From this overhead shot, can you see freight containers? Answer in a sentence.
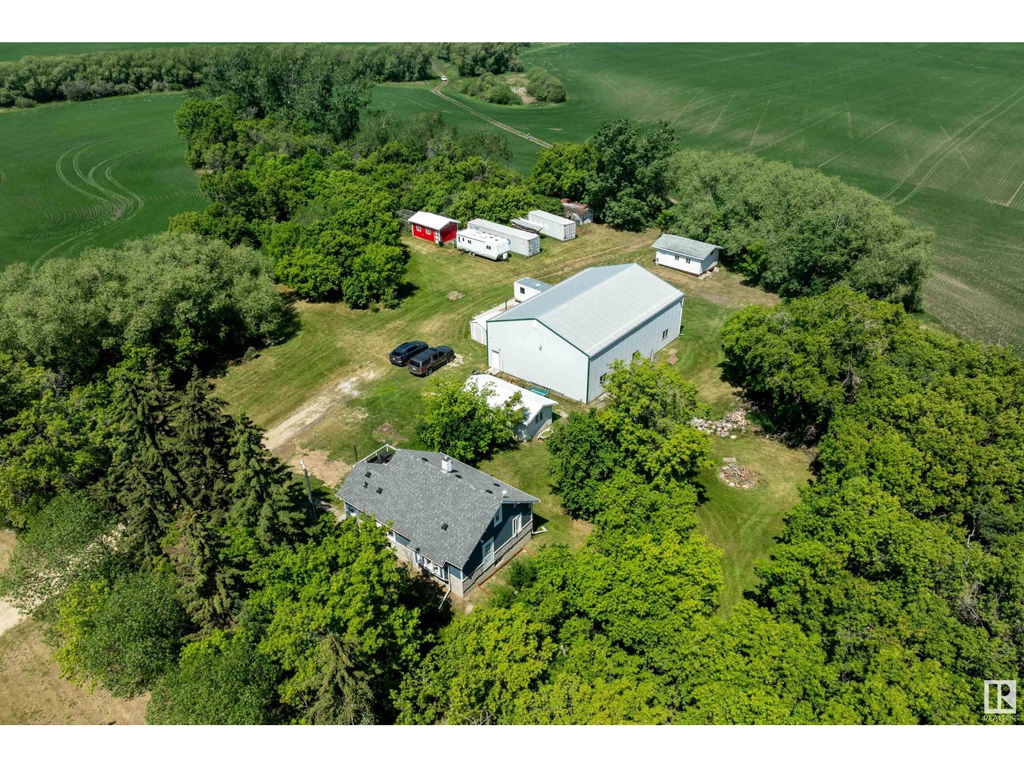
Yes, looking at the shot, I can spot a freight container.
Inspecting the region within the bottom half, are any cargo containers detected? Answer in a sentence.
No, no cargo container is visible within the bottom half.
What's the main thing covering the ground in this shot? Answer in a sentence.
The scene is dominated by trees.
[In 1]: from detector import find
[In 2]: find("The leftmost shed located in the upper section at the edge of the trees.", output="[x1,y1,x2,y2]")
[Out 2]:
[408,212,460,244]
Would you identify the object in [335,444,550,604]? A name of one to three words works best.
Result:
house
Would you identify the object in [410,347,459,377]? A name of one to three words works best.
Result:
car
